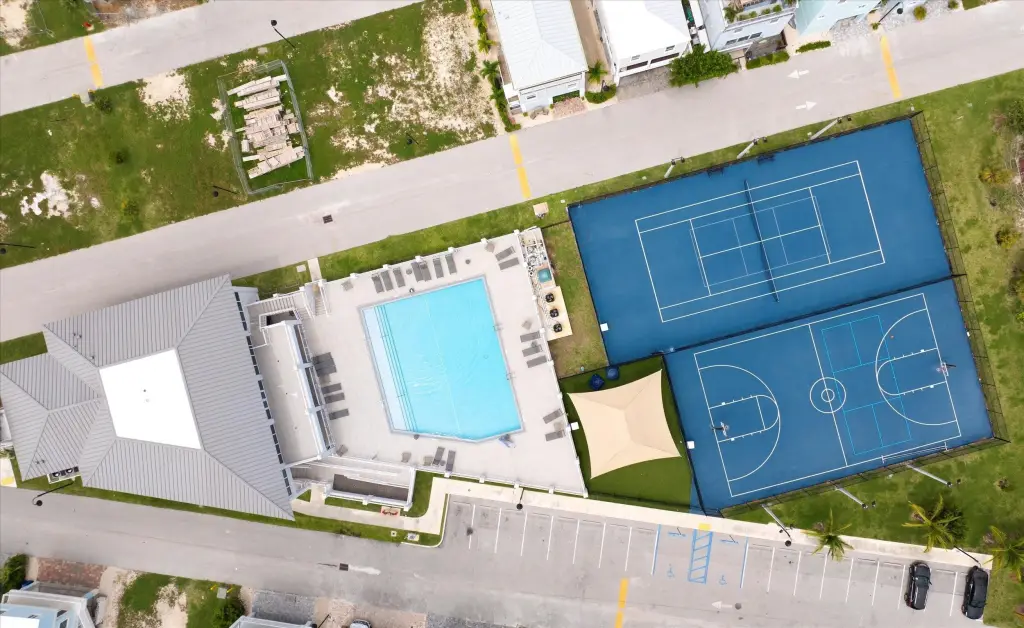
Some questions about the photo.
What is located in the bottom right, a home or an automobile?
automobile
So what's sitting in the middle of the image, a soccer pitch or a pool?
pool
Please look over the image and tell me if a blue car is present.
No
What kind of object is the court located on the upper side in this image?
tennis court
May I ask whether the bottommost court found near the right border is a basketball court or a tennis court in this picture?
basketball court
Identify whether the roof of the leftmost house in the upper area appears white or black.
white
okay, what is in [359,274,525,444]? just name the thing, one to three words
swimming pool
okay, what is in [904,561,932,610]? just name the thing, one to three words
car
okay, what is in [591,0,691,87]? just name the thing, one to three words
house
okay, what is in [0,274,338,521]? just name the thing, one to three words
building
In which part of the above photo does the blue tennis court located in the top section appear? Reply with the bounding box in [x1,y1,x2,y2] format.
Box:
[568,118,951,366]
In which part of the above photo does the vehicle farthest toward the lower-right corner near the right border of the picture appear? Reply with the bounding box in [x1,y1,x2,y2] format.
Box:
[961,566,989,617]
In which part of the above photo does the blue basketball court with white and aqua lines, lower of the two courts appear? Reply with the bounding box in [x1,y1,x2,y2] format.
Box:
[666,279,993,515]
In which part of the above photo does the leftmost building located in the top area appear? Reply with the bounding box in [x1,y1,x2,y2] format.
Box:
[492,0,588,117]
